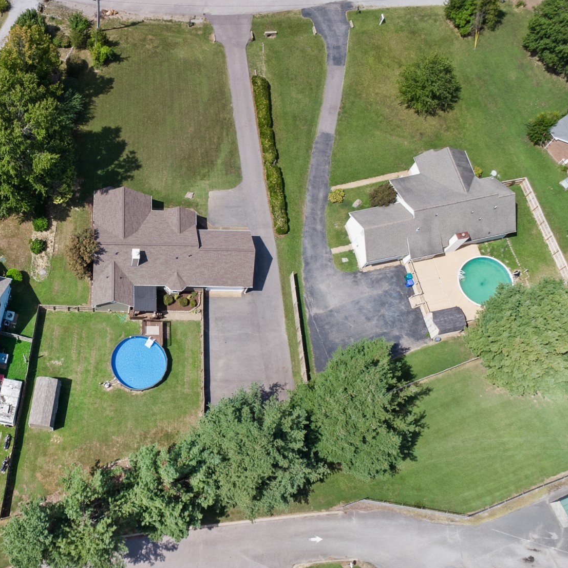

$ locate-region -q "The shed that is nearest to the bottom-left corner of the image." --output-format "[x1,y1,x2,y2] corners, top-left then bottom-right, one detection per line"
[27,377,60,430]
